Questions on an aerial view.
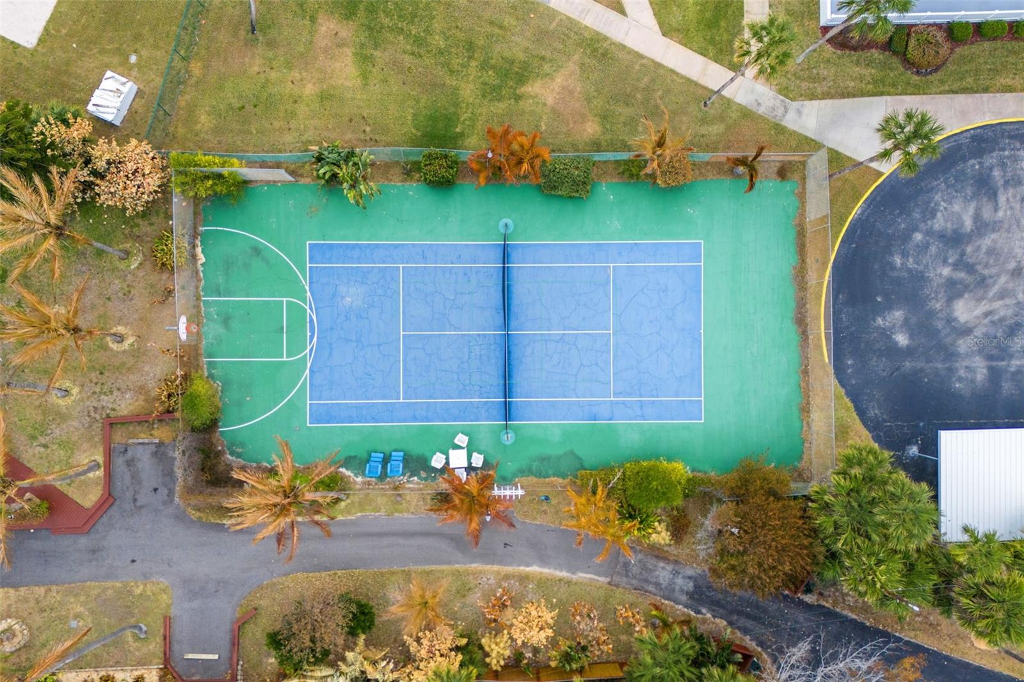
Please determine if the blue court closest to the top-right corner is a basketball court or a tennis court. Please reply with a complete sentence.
Specifically, the blue court closest to the top-right corner is a tennis court.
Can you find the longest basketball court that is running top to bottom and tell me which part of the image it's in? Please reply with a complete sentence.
The longest basketball court that is running top to bottom is in the left part of the image.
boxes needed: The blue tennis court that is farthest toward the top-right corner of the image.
[307,179,806,484]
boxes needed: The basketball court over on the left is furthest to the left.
[200,183,316,465]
